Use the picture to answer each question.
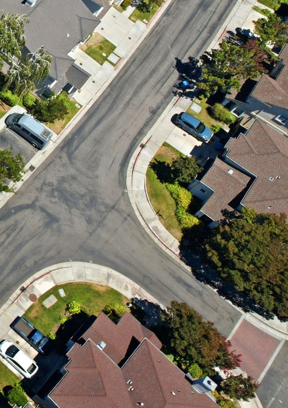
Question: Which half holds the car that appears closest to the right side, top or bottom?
top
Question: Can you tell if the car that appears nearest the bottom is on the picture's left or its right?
left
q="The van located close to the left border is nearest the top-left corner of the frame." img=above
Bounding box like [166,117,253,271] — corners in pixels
[5,115,54,150]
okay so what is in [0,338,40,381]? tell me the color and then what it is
white car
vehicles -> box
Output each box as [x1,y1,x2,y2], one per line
[171,111,212,141]
[5,115,54,150]
[0,338,40,381]
[5,309,54,360]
